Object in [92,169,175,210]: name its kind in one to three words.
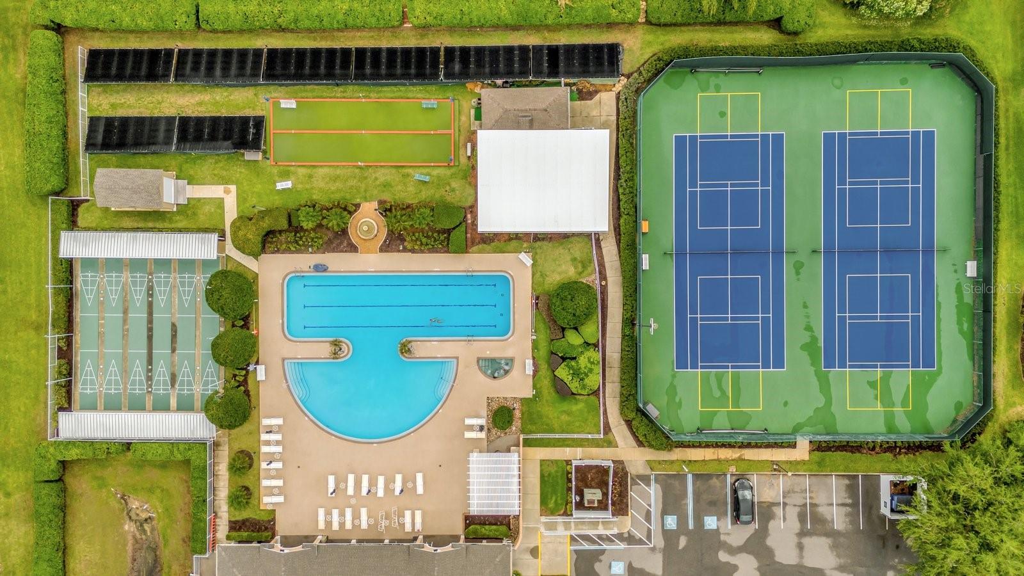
shed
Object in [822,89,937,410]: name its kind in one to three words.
tennis court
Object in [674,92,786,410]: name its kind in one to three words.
tennis court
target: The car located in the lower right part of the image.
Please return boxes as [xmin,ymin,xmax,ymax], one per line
[734,480,757,527]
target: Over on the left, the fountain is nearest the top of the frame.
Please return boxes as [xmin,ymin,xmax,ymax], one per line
[356,218,378,239]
